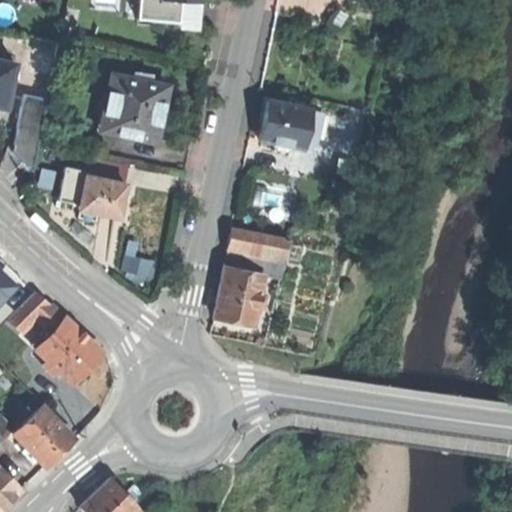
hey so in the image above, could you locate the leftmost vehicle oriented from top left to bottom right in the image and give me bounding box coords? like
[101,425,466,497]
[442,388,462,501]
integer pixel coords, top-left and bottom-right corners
[2,456,16,472]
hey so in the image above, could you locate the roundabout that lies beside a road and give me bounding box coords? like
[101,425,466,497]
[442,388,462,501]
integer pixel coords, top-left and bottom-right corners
[122,357,230,466]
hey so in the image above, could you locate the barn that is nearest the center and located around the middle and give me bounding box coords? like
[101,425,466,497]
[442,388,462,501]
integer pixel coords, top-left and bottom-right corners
[227,228,292,264]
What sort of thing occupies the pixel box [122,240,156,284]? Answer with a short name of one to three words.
shed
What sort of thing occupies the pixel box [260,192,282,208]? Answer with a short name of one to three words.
swimming pool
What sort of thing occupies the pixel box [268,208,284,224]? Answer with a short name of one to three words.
umbrella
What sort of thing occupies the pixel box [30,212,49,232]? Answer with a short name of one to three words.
vehicle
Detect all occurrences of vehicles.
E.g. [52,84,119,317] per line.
[206,114,216,134]
[30,212,49,232]
[126,2,134,20]
[134,144,154,154]
[2,456,16,472]
[8,289,25,306]
[184,214,194,232]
